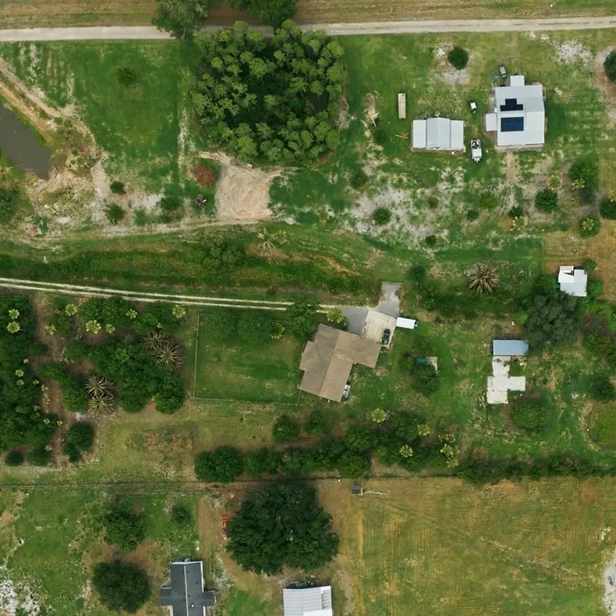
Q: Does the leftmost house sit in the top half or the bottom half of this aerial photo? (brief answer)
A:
bottom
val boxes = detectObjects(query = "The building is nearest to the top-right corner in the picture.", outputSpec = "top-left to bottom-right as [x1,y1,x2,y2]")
[485,75,544,152]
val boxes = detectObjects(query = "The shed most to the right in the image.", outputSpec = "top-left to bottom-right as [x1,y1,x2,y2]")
[558,266,587,296]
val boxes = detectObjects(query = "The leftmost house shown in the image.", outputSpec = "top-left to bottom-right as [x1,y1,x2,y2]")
[160,558,216,616]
